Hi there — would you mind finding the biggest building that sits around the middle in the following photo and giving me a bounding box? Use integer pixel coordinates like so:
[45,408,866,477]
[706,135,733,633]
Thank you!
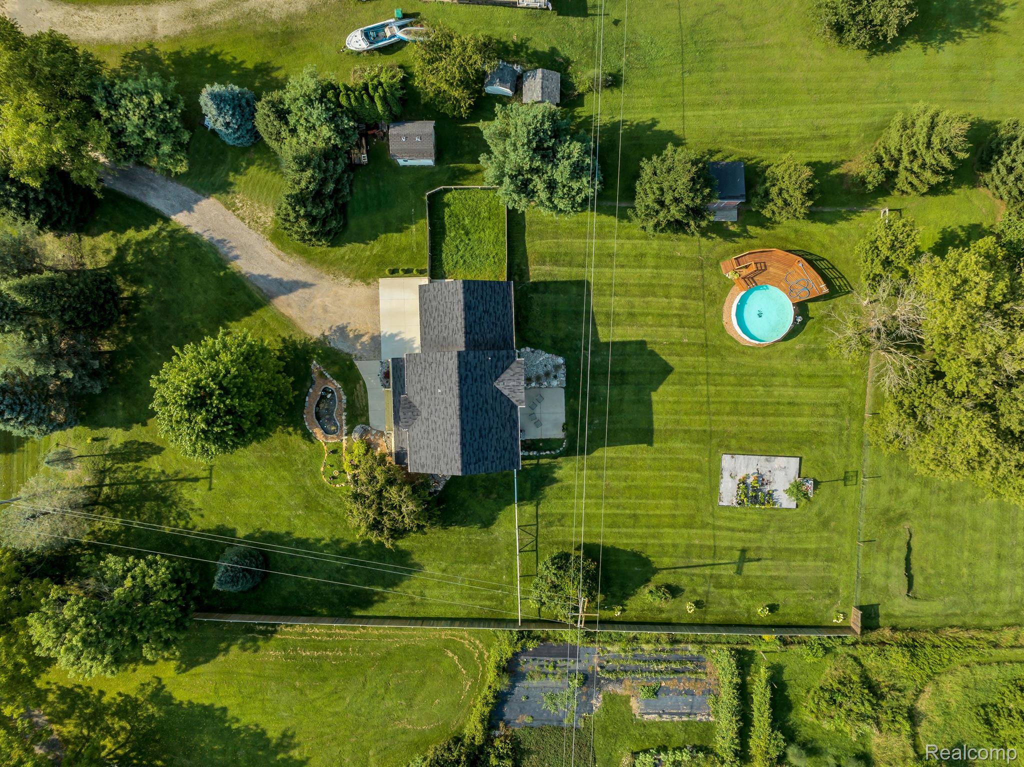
[382,278,525,476]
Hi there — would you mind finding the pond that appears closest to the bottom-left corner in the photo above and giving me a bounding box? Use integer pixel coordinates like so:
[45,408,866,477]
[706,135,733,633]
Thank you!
[301,359,350,444]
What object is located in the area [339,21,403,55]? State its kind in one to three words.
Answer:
boat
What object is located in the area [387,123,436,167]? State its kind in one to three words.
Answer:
shed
